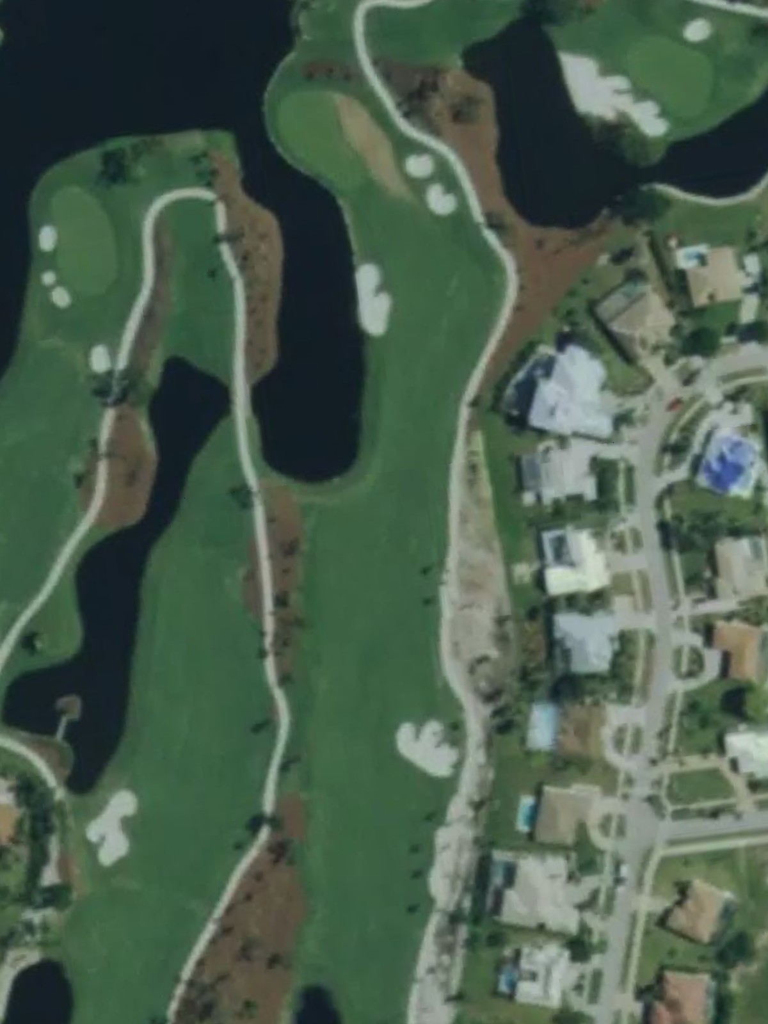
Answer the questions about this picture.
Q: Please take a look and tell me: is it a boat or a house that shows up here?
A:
house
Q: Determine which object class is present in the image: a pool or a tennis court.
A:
pool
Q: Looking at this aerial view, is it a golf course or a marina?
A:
golf course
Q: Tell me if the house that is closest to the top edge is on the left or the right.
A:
right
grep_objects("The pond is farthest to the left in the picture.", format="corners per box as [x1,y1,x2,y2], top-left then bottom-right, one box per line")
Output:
[4,960,72,1024]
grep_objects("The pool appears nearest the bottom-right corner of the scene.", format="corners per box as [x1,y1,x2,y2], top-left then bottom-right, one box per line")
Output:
[498,965,519,993]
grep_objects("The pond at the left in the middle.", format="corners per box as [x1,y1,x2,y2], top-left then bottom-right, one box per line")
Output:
[3,357,229,793]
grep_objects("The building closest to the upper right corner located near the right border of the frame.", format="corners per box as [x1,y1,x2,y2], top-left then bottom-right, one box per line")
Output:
[687,244,744,307]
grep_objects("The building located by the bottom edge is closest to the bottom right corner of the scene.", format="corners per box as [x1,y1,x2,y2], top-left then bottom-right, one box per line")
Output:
[656,973,710,1024]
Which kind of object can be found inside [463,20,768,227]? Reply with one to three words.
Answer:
pond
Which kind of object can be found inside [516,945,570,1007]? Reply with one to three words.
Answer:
house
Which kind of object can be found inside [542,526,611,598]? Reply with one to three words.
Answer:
house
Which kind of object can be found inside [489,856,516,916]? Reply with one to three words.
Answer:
swimming pool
